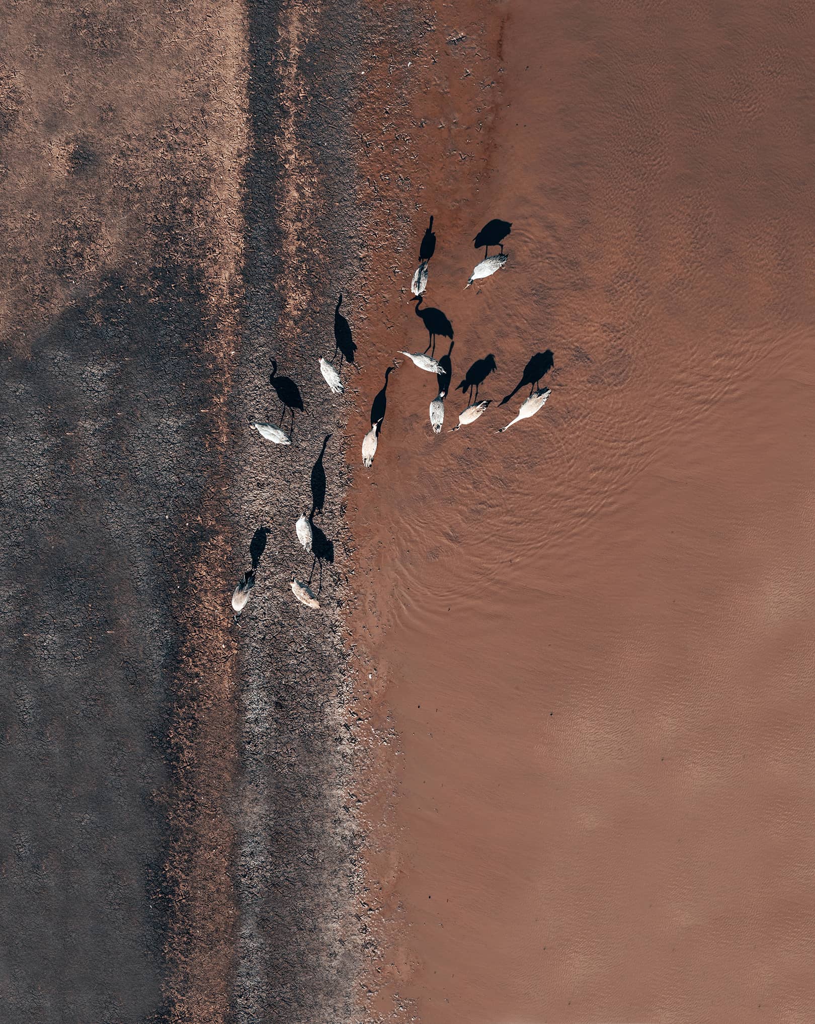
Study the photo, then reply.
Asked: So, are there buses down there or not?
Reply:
No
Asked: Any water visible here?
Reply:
Yes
